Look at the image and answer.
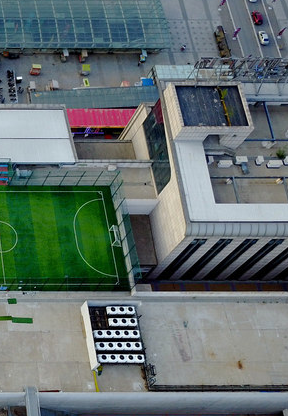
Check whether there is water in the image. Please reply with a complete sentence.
No, there's no water in this view.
